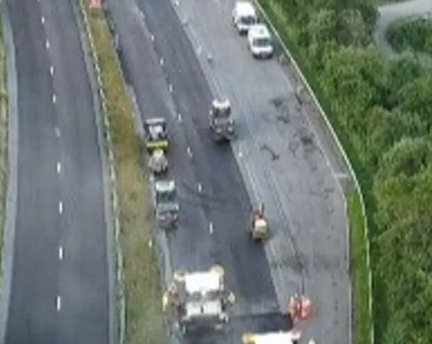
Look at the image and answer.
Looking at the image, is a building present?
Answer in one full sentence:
No, the picture doesn't show any building.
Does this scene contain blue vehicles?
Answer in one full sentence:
No, this view has no blue vehicle in it.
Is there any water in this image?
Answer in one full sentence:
No, the picture contains no water.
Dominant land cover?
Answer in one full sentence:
The scene is dominated by paved ground.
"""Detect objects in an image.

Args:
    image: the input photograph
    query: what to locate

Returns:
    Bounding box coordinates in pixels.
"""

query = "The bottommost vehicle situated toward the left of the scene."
[152,181,178,230]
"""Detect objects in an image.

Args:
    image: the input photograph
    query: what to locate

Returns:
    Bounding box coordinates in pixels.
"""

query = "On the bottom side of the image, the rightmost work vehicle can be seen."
[246,204,271,239]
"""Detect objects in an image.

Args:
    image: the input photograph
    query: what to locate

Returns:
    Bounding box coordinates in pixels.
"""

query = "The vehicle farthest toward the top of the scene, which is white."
[233,5,256,34]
